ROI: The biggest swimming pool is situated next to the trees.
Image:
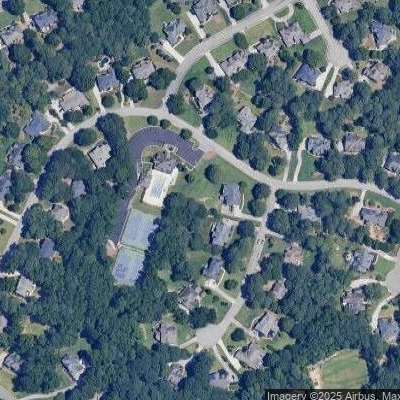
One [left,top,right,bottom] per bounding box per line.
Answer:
[143,168,179,206]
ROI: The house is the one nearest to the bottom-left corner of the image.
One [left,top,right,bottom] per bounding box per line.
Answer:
[2,349,26,374]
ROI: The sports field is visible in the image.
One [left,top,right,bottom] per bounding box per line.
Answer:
[310,350,369,398]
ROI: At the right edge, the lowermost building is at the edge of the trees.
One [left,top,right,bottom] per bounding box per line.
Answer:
[377,315,400,342]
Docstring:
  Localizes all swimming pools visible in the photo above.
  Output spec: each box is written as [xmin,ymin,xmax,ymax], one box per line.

[100,56,110,69]
[143,168,179,206]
